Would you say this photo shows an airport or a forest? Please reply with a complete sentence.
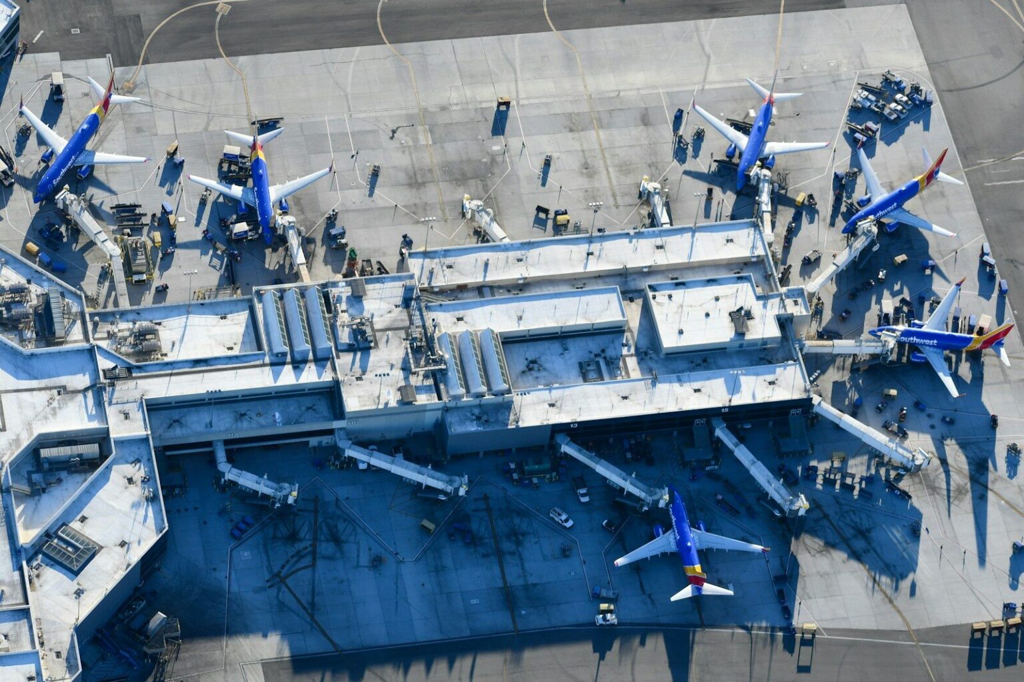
The area seen from above is an airport.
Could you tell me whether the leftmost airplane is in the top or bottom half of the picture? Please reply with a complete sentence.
It is in the top half that the leftmost airplane appears.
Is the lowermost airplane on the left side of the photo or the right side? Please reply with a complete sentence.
It is on the right.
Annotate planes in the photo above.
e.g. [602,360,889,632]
[19,70,152,203]
[842,138,962,237]
[614,486,770,604]
[693,70,833,190]
[185,113,334,245]
[870,276,1020,397]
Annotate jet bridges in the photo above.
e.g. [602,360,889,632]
[804,218,875,309]
[554,436,672,509]
[271,205,310,285]
[795,334,896,375]
[52,188,128,309]
[632,174,675,229]
[713,420,815,517]
[807,391,937,474]
[337,425,472,498]
[740,169,776,257]
[457,193,519,243]
[214,436,301,512]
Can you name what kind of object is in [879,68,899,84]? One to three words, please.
work vehicle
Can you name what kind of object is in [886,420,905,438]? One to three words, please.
work vehicle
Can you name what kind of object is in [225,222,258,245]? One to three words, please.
truck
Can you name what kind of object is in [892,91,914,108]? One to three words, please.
vehicle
